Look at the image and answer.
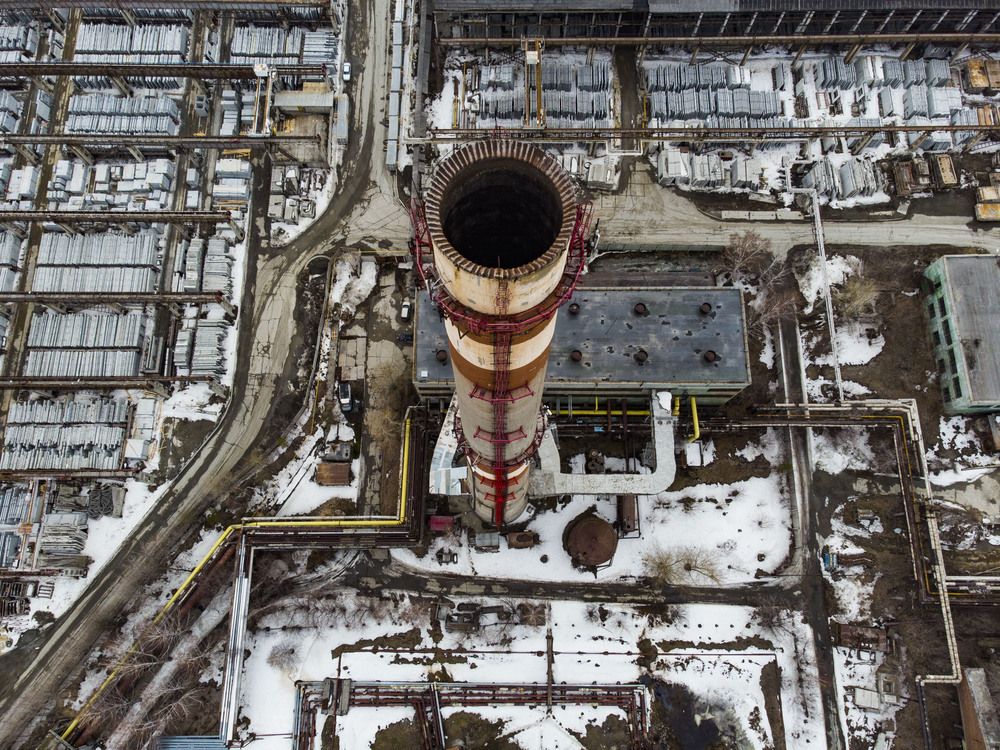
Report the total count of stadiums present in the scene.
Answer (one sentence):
Not a single stadium can be seen.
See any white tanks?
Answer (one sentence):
No, no white tank can be seen from above.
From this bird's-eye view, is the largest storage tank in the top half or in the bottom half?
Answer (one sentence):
The bottom half of the photo is where the largest storage tank is.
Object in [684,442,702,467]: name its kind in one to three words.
building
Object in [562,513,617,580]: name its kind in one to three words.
storage tank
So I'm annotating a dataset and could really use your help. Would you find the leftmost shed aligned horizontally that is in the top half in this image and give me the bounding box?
[273,91,336,118]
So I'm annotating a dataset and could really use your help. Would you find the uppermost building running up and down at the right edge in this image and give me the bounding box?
[923,256,1000,411]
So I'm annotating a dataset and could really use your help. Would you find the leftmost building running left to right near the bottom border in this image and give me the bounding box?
[513,717,585,750]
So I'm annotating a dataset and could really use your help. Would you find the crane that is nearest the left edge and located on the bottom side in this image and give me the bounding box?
[11,470,63,576]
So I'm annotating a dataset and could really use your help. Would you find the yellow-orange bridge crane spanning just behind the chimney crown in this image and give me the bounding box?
[521,36,546,133]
